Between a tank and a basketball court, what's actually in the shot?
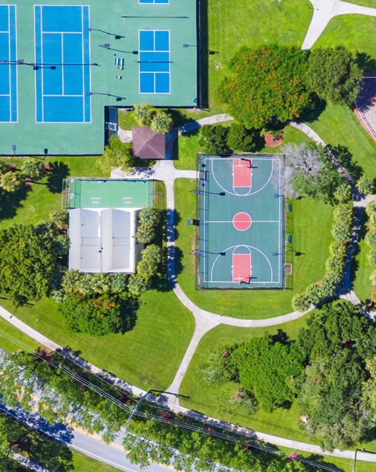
basketball court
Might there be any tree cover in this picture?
Yes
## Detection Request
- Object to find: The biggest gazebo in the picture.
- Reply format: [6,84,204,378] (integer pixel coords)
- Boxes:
[132,127,170,159]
